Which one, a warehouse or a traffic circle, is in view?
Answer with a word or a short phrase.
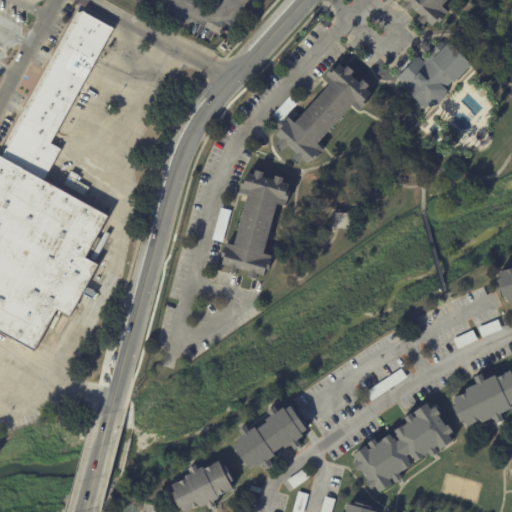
warehouse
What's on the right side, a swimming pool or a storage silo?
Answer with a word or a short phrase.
swimming pool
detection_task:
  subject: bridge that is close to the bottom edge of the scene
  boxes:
[67,404,127,512]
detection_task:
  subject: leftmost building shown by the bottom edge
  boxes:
[172,462,233,511]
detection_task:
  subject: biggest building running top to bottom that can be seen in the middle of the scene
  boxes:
[222,172,291,278]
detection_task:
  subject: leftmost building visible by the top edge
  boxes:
[2,11,114,180]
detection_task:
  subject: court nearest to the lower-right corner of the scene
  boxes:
[442,474,482,504]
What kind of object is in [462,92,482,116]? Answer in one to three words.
swimming pool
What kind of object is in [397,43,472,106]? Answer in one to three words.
building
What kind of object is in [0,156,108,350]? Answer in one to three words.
building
